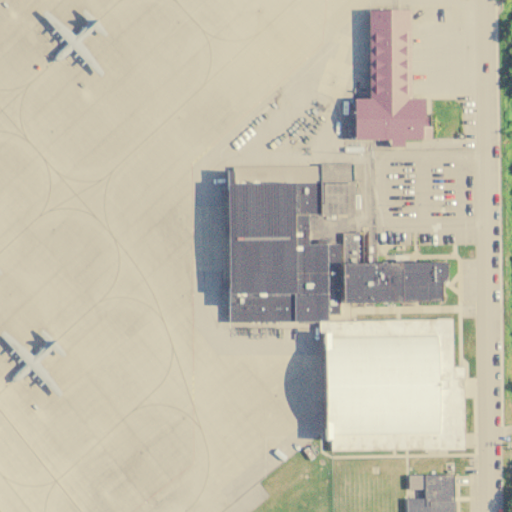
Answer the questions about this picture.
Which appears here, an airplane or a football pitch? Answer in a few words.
airplane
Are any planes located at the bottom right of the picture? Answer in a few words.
No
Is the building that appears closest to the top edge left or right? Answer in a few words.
right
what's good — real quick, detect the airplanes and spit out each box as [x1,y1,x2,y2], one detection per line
[2,330,66,396]
[44,9,109,74]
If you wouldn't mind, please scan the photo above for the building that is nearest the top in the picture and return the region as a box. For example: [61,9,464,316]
[355,8,434,146]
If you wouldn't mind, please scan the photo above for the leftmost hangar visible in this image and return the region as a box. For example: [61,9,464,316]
[228,166,320,320]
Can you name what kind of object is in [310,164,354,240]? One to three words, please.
building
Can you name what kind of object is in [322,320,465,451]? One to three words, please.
hangar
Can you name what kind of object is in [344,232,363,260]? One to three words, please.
building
